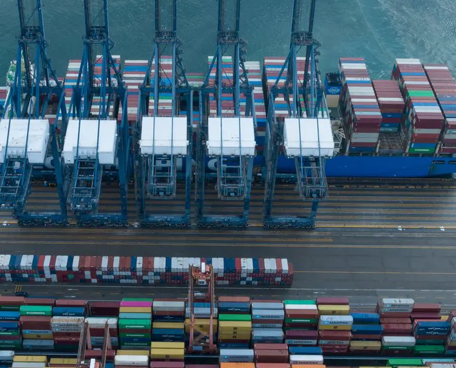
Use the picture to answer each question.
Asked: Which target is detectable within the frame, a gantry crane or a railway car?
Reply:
gantry crane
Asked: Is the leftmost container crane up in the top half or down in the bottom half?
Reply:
top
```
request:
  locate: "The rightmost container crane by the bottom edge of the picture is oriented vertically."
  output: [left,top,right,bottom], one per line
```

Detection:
[192,257,227,359]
